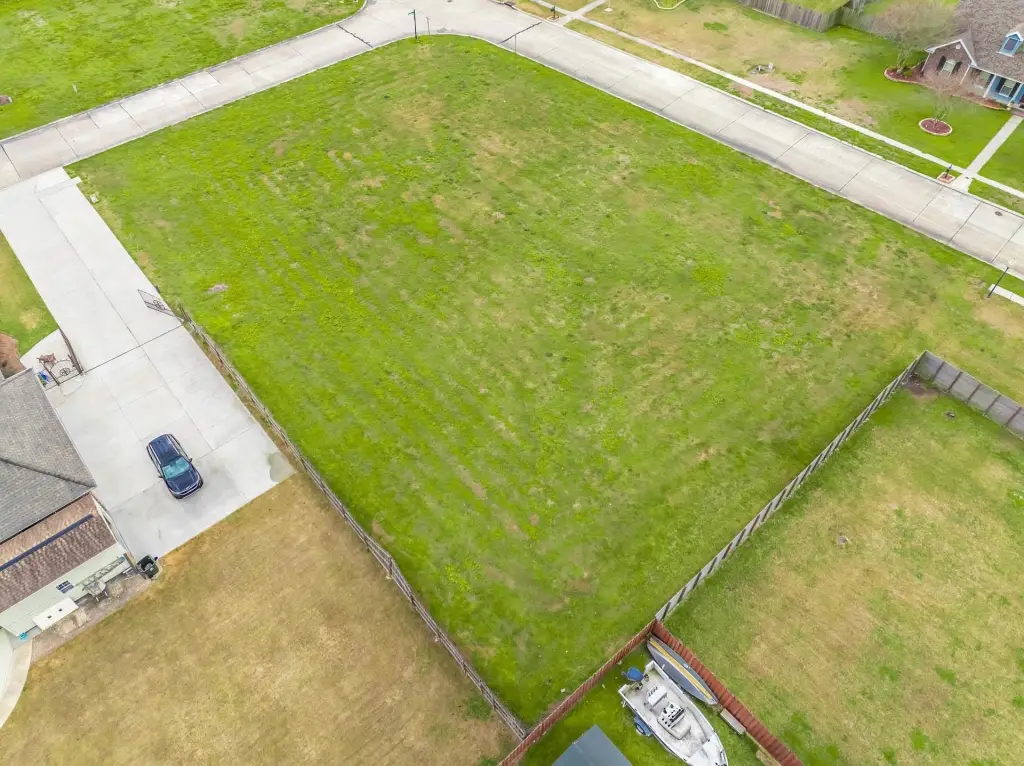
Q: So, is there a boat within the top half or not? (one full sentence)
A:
No, no boat can be made out within the top half.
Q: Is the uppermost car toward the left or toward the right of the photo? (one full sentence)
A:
The uppermost car is on the left side of the image.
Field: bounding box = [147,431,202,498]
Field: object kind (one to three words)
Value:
car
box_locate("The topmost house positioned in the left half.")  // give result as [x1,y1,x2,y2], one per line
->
[0,370,104,547]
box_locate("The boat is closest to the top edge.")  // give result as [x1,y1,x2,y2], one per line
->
[645,637,716,708]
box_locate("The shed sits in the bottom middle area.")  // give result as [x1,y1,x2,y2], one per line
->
[556,725,631,766]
